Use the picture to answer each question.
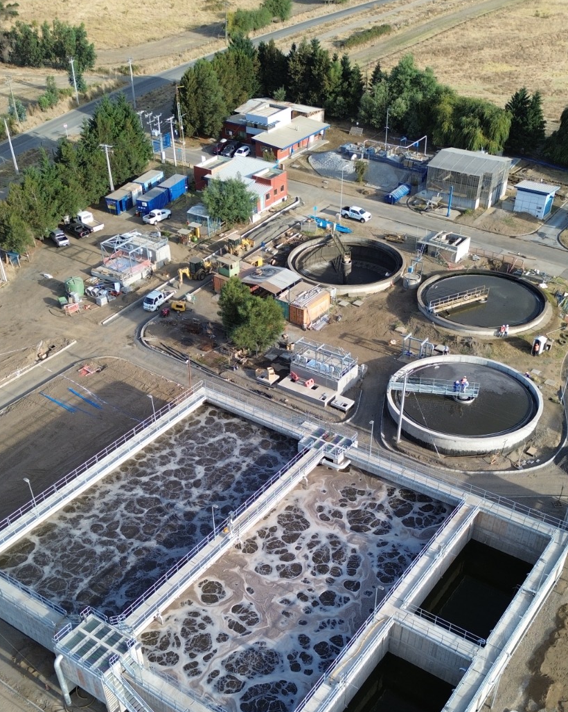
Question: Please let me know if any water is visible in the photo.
Yes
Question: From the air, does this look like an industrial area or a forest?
industrial area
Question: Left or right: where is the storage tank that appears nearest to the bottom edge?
right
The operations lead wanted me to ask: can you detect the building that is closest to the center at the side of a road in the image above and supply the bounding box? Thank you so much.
[214,256,245,280]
